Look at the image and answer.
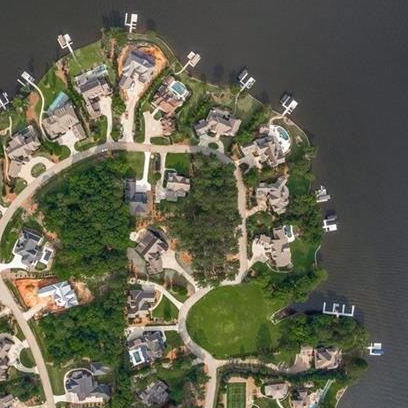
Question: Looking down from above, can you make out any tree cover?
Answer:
Yes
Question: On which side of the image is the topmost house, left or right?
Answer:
left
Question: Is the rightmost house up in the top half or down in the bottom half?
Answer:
bottom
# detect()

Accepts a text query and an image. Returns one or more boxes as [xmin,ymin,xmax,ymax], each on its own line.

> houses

[257,227,292,267]
[150,76,180,116]
[124,177,149,215]
[137,378,171,408]
[65,371,112,400]
[166,172,191,202]
[4,125,42,175]
[123,287,156,317]
[313,345,340,370]
[191,108,243,136]
[0,393,16,408]
[239,131,286,165]
[290,388,308,408]
[79,77,116,118]
[127,327,167,362]
[128,224,163,271]
[253,172,292,216]
[264,383,289,401]
[41,103,88,139]
[13,230,42,267]
[116,45,157,90]
[35,279,84,309]
[160,117,177,136]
